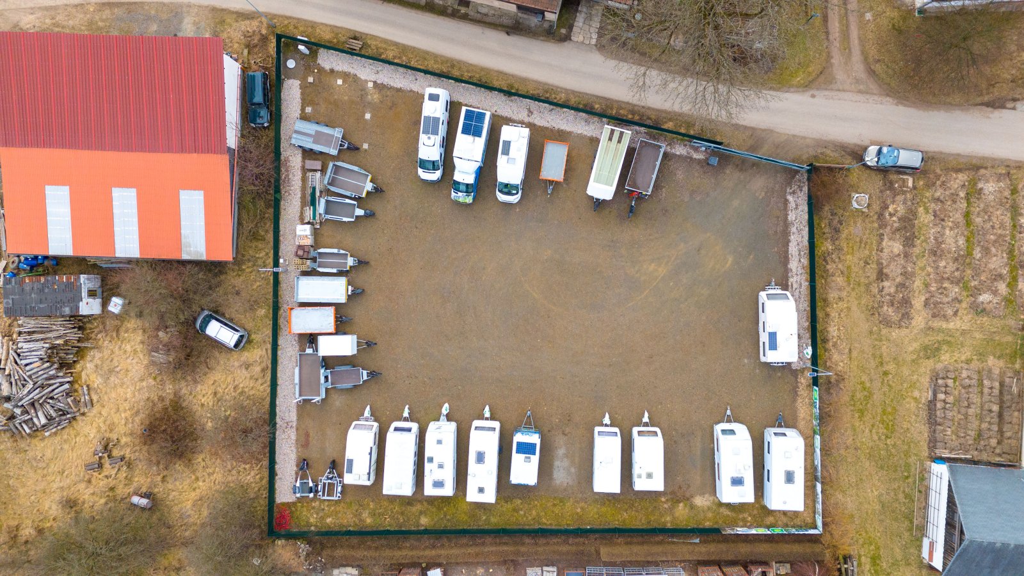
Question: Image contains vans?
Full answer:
Yes, the image includes a van.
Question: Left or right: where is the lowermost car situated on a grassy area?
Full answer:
The lowermost car situated on a grassy area is on the left side of the image.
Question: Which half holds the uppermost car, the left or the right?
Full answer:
The uppermost car sits on the left side.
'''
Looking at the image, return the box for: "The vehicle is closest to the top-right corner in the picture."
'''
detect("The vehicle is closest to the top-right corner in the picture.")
[862,142,925,174]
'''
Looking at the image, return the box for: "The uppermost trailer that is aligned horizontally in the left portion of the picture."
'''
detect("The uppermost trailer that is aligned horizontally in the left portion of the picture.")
[292,120,359,155]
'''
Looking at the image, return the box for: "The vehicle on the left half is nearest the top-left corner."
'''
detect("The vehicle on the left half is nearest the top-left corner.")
[244,70,274,128]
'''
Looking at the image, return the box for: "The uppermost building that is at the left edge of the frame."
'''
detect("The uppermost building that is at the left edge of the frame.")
[0,32,242,261]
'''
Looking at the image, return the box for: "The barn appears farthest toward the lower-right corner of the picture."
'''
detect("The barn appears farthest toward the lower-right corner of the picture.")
[922,459,1024,576]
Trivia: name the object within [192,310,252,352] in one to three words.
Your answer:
car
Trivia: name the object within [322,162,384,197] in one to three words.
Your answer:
trailer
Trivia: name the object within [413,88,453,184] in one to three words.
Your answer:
van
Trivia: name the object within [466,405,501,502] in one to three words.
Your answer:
camper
